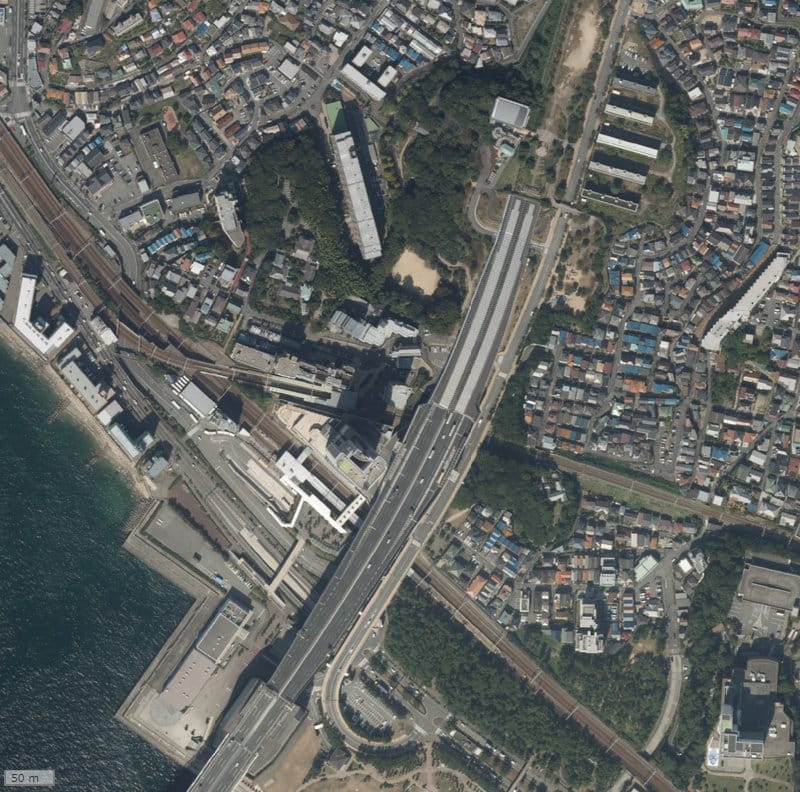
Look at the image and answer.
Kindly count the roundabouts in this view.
one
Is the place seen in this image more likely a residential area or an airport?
residential area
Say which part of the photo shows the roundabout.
bottom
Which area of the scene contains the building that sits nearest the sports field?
top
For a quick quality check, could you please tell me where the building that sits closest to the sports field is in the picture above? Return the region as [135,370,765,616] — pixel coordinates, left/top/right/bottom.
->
[332,130,384,262]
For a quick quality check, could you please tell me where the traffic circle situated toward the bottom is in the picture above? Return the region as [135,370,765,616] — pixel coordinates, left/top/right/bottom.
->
[398,690,454,742]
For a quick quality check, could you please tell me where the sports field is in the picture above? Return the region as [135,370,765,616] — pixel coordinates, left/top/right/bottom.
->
[392,247,438,294]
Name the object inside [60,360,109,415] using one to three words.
building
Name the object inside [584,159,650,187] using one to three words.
building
